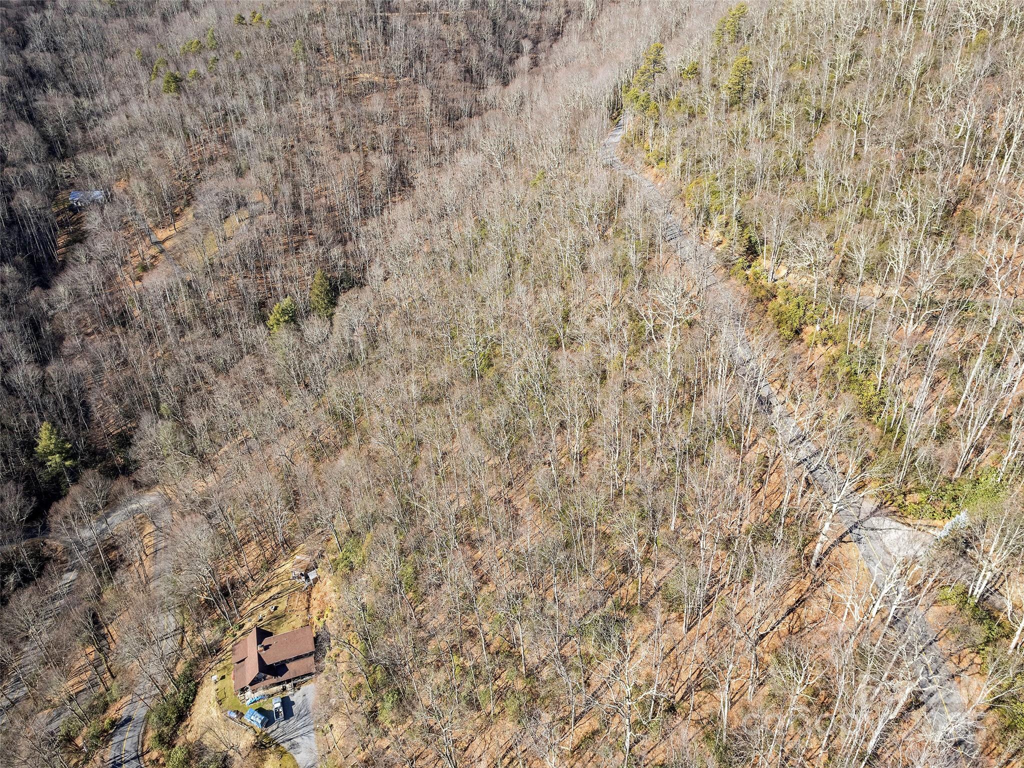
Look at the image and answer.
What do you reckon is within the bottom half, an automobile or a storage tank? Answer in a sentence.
The feature located within the bottom half is an automobile.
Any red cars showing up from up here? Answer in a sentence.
No, I can see no red car in this picture.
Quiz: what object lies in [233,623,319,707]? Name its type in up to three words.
building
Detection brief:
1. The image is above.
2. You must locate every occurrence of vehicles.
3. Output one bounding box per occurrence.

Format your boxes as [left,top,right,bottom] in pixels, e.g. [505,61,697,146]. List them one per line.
[242,704,269,729]
[271,693,288,724]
